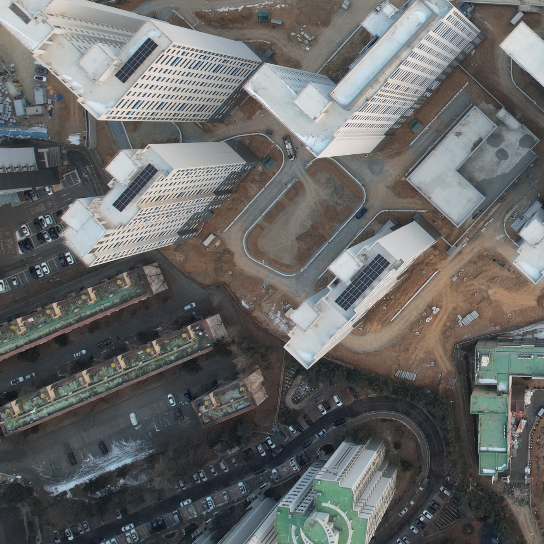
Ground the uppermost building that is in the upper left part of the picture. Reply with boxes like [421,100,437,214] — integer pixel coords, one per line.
[0,0,272,125]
